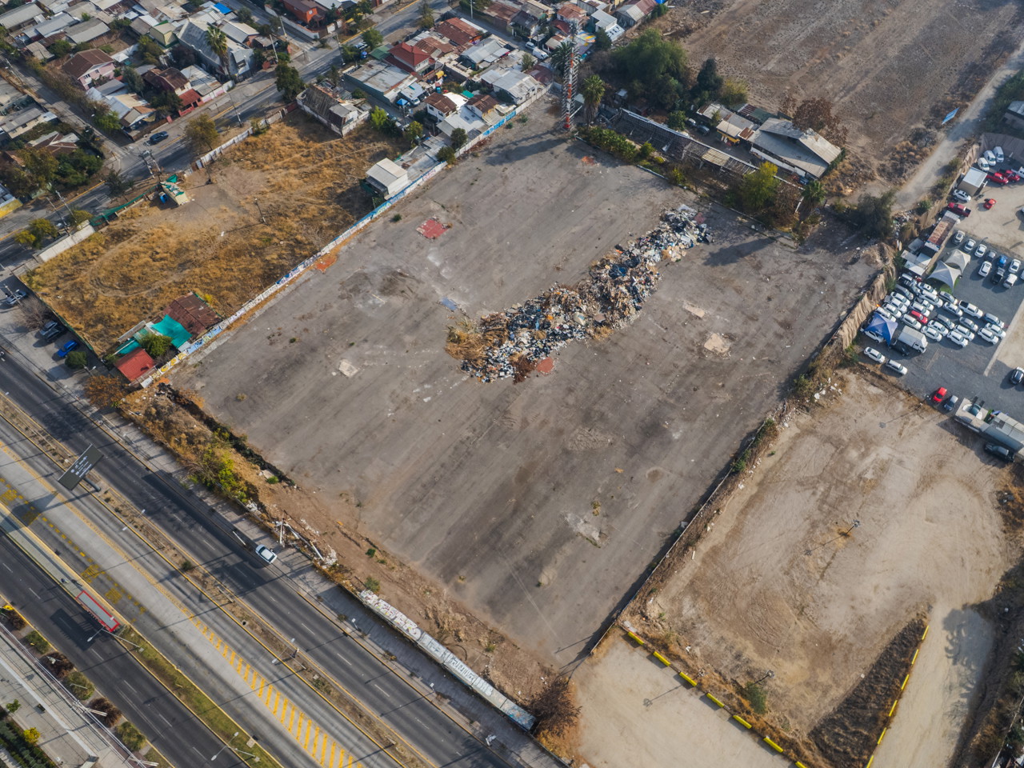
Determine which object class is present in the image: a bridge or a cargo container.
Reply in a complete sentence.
Looking from above, you can make out a cargo container.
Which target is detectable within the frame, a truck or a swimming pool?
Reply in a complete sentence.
Looking from above, you can make out a truck.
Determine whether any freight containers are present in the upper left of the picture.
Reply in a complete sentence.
No, no freight container appears in the upper left of the picture.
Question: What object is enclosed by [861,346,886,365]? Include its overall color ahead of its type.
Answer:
white car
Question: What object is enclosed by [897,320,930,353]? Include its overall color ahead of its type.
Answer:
white truck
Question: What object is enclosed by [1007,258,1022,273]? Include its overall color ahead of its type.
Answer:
white car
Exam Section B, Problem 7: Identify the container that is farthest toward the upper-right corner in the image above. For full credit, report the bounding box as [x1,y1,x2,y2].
[920,215,959,256]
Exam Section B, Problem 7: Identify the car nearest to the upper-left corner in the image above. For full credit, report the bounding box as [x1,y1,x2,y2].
[149,131,168,144]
